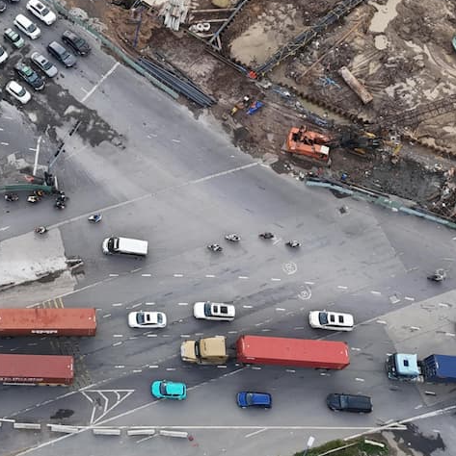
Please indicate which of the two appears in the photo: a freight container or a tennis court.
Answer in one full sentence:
The one in the frame is a freight container.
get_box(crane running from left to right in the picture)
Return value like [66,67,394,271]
[293,96,456,165]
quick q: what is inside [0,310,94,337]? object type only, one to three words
shipping container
